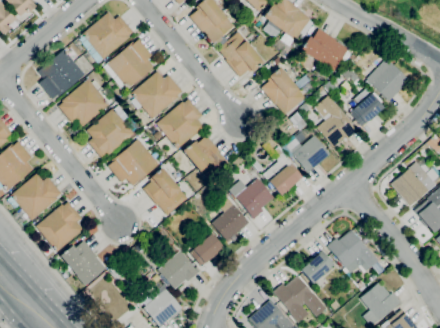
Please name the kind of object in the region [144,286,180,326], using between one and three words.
house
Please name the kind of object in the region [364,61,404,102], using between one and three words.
house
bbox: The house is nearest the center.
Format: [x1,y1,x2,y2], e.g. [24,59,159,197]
[184,137,222,190]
